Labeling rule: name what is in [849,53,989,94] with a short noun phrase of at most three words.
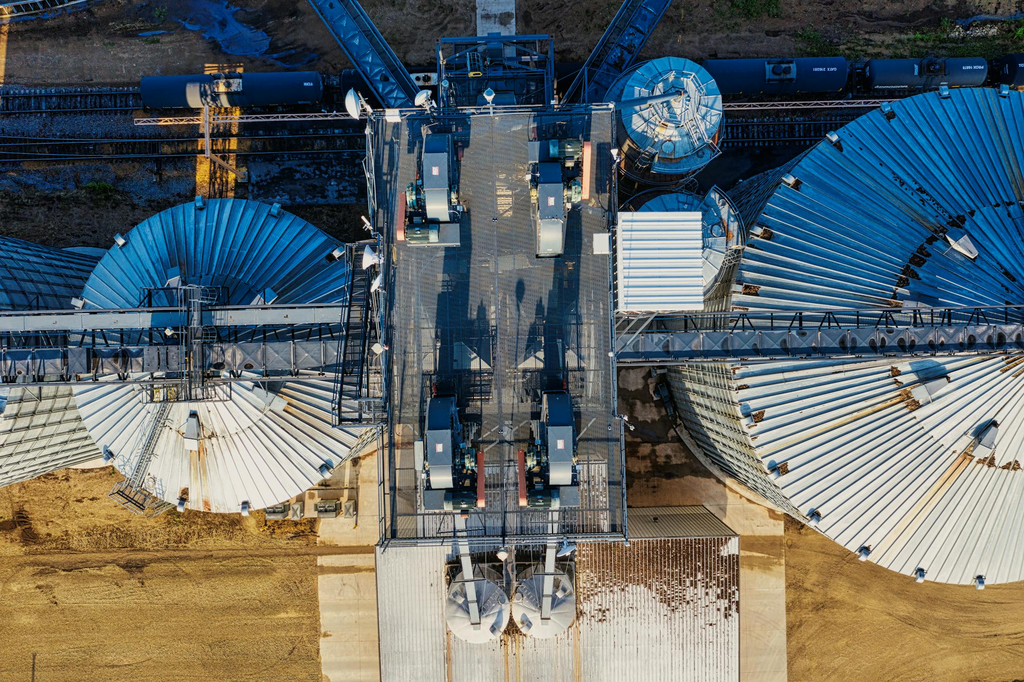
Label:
rail car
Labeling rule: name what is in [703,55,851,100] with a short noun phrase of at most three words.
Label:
rail car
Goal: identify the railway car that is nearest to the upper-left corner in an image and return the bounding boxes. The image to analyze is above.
[137,69,334,113]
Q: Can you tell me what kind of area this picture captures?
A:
industrial area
